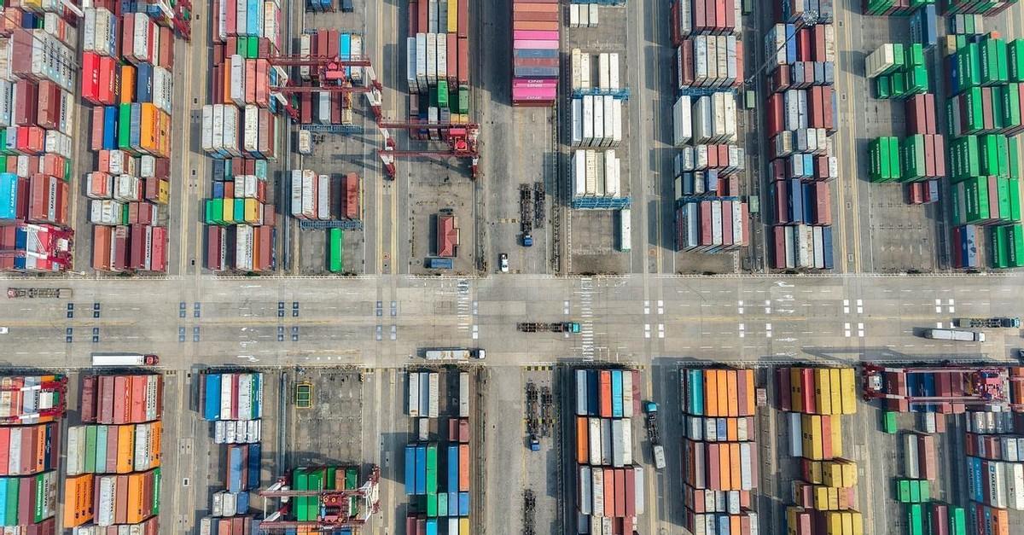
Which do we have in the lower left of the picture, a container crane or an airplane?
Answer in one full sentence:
The feature located in the lower left of the picture is a container crane.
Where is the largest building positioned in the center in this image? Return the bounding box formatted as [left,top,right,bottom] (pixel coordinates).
[437,215,460,257]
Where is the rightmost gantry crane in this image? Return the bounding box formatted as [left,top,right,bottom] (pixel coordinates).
[960,373,1024,408]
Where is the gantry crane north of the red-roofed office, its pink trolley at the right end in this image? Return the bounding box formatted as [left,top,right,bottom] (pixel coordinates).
[377,120,479,183]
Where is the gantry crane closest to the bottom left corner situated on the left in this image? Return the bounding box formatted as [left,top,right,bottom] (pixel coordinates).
[0,373,69,422]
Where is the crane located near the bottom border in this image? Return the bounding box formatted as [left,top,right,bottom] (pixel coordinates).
[258,464,381,528]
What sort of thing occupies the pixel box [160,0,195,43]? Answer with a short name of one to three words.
container crane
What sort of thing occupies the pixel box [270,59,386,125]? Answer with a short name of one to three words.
container crane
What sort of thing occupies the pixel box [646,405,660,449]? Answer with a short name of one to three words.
vehicle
